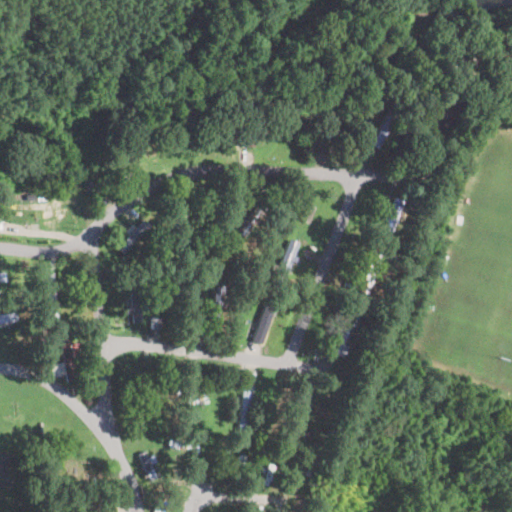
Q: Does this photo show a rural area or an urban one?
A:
rural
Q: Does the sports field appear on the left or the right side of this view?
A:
right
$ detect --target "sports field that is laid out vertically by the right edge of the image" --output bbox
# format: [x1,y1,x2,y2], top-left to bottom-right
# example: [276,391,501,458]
[412,124,512,397]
